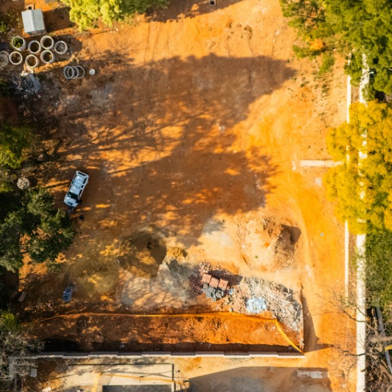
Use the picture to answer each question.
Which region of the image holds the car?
left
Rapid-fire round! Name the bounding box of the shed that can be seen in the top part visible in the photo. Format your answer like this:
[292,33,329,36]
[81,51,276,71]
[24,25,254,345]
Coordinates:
[22,7,48,35]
